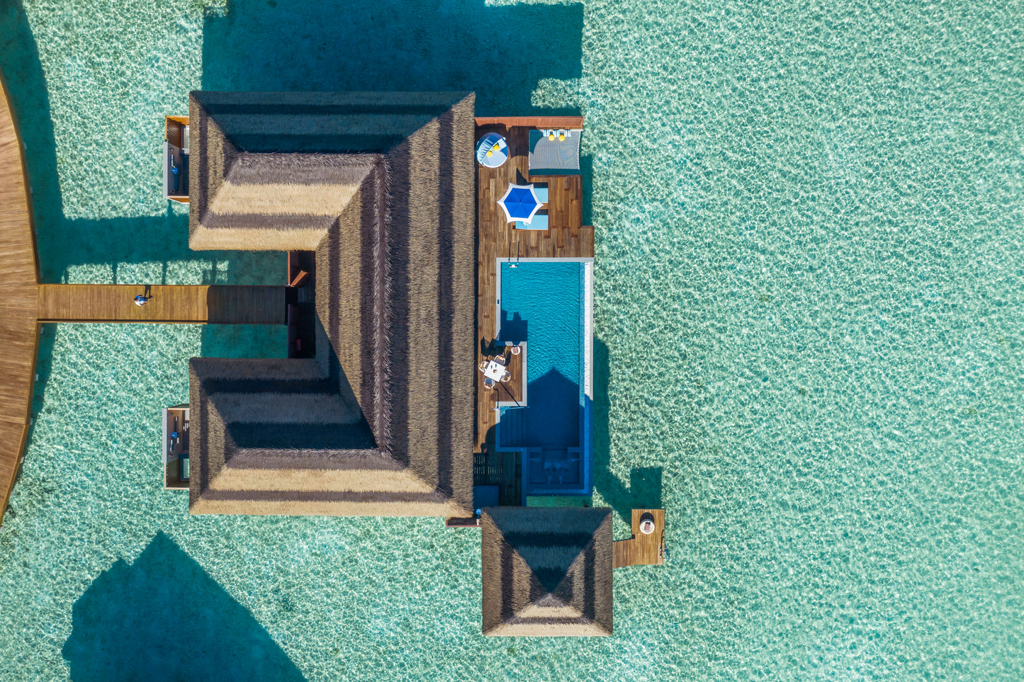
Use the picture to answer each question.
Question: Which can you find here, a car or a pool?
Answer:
pool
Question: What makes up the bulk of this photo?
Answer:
water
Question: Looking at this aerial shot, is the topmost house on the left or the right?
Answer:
left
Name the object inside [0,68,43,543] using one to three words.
pier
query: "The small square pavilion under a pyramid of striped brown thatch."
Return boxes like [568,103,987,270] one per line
[479,504,616,639]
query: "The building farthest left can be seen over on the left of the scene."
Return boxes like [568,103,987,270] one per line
[187,89,479,520]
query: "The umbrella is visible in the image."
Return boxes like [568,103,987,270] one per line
[498,184,544,225]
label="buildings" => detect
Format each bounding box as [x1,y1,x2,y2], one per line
[187,89,479,520]
[479,504,616,639]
